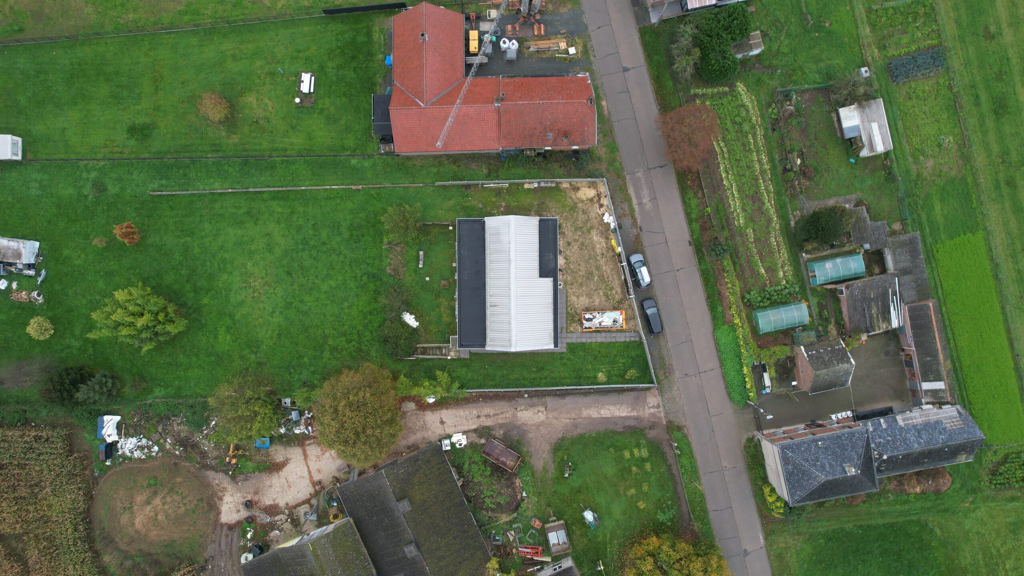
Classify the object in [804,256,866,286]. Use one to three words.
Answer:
greenhouse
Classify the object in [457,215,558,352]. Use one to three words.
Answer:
house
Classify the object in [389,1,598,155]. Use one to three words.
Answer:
house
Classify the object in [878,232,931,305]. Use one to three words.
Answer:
shed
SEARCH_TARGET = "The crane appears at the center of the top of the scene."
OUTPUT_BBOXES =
[436,0,542,147]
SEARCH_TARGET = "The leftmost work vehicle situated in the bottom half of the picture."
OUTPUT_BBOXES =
[224,444,249,467]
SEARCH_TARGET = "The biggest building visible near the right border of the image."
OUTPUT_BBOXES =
[759,401,986,507]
